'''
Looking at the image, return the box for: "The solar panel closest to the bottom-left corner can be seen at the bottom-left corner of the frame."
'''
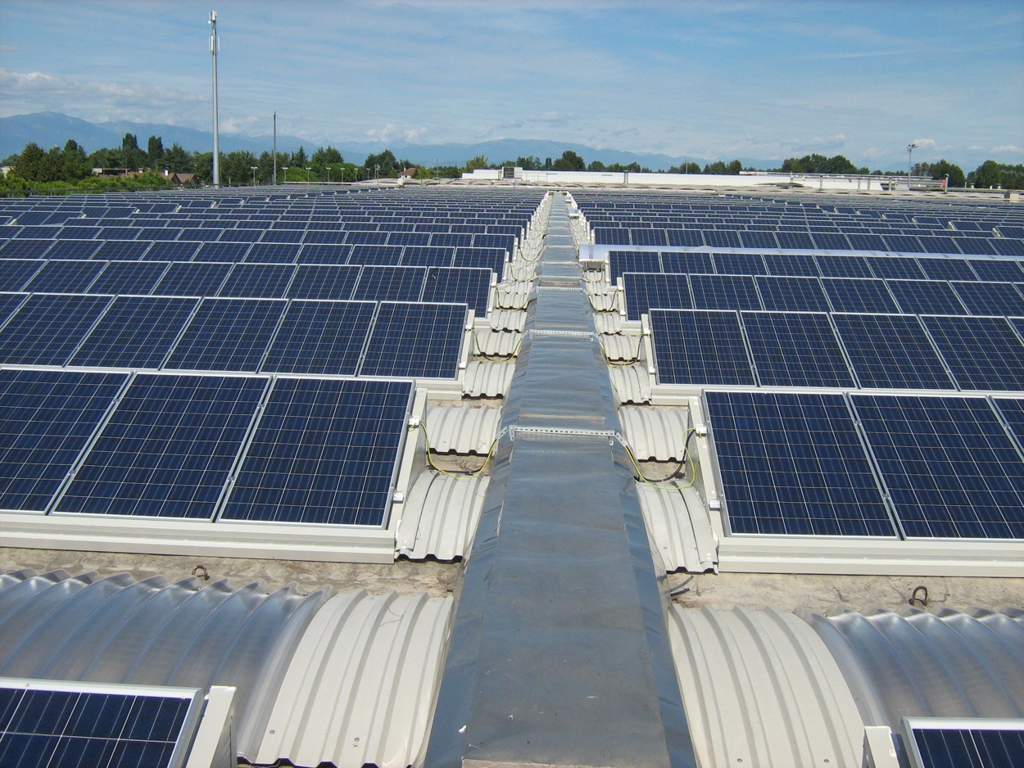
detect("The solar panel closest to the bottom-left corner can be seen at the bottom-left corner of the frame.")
[0,680,207,768]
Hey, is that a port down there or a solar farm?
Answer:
solar farm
